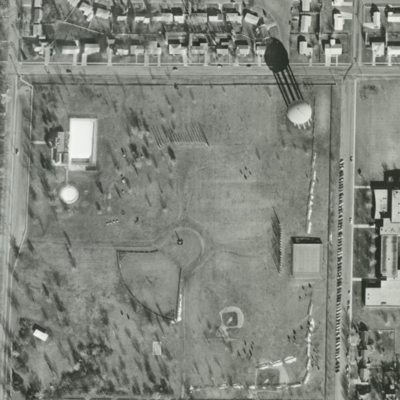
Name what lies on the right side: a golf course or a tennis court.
tennis court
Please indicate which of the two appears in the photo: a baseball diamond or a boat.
baseball diamond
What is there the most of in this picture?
grass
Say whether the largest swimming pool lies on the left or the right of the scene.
left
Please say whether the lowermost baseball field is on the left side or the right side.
right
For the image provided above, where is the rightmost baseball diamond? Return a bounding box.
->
[256,366,289,387]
